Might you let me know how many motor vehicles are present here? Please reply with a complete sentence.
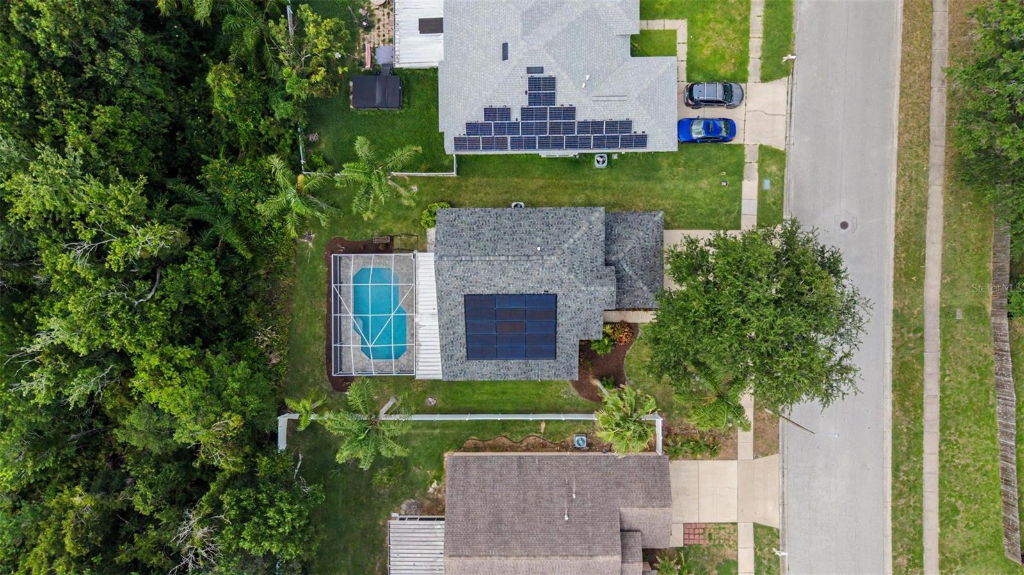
My tally gives 2 motor vehicles in this view.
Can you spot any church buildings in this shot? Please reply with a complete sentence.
No, there appears to be no church building in this shot.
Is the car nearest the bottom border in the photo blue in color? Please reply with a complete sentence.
Yes, the car nearest the bottom border appears blue.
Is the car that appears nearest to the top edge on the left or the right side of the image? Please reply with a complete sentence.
The car that appears nearest to the top edge is on the right side of the image.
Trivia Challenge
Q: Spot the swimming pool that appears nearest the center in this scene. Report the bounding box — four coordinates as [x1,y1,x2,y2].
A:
[350,264,410,363]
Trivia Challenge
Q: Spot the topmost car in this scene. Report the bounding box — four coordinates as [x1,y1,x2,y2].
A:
[683,79,743,110]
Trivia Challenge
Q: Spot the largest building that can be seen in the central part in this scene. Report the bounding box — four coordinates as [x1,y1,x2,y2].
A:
[414,207,665,381]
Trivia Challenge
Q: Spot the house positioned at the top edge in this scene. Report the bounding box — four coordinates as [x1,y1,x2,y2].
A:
[395,0,678,161]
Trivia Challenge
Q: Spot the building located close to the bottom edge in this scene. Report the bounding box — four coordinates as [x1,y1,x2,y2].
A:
[388,448,672,575]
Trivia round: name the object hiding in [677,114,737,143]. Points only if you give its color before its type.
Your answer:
blue car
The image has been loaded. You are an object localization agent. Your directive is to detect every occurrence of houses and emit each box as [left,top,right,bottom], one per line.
[388,448,672,575]
[414,207,665,381]
[395,0,678,161]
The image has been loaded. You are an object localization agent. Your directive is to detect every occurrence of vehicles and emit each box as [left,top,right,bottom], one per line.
[677,114,737,143]
[683,79,743,110]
